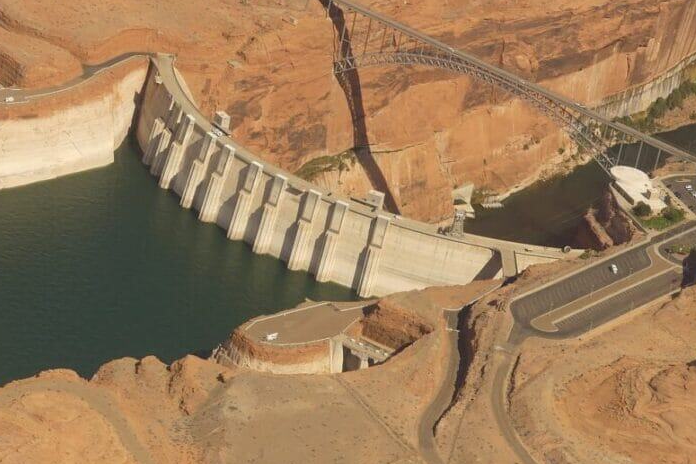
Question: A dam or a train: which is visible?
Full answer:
Looking from above, you can make out a dam.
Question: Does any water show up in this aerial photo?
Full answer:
Yes, the picture does contain water.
